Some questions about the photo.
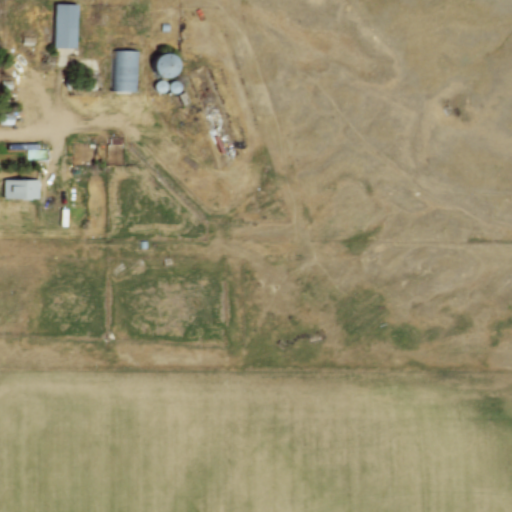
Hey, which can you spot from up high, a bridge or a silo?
silo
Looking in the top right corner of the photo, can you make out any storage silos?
No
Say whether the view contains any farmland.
Yes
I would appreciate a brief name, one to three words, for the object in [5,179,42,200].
house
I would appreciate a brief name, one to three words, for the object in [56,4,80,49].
shed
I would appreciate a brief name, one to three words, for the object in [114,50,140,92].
barn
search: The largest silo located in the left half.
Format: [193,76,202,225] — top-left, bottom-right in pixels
[156,53,184,82]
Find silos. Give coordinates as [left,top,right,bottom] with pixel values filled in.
[156,53,184,82]
[170,80,185,96]
[156,80,170,96]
